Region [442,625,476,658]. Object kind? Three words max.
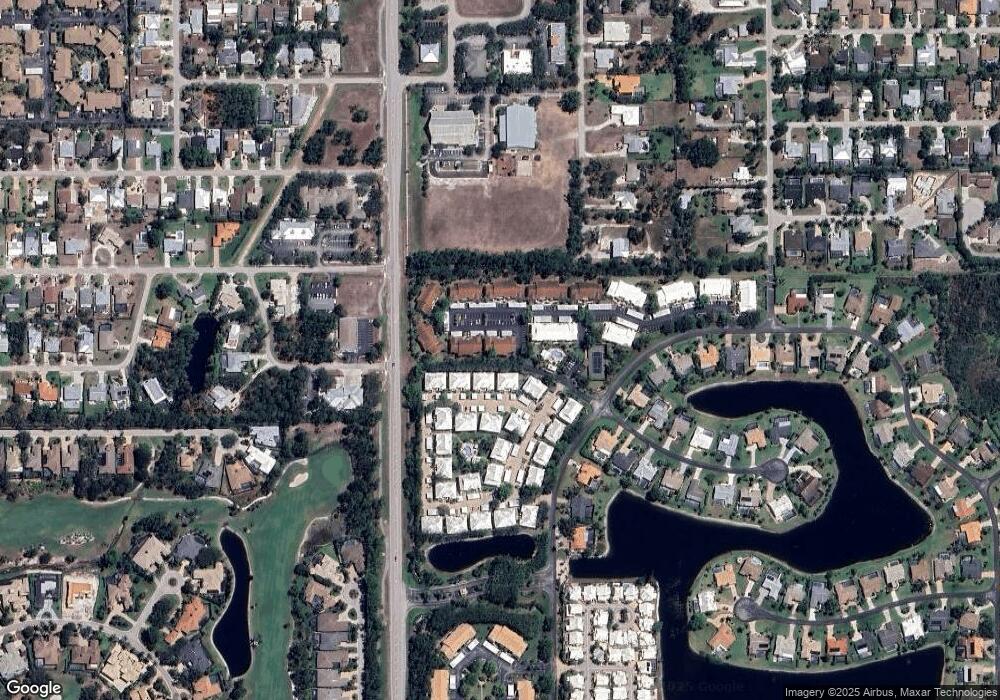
building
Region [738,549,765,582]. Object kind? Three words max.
house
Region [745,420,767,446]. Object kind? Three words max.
house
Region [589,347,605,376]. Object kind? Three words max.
tennis court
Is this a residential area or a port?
residential area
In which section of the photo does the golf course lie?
bottom left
